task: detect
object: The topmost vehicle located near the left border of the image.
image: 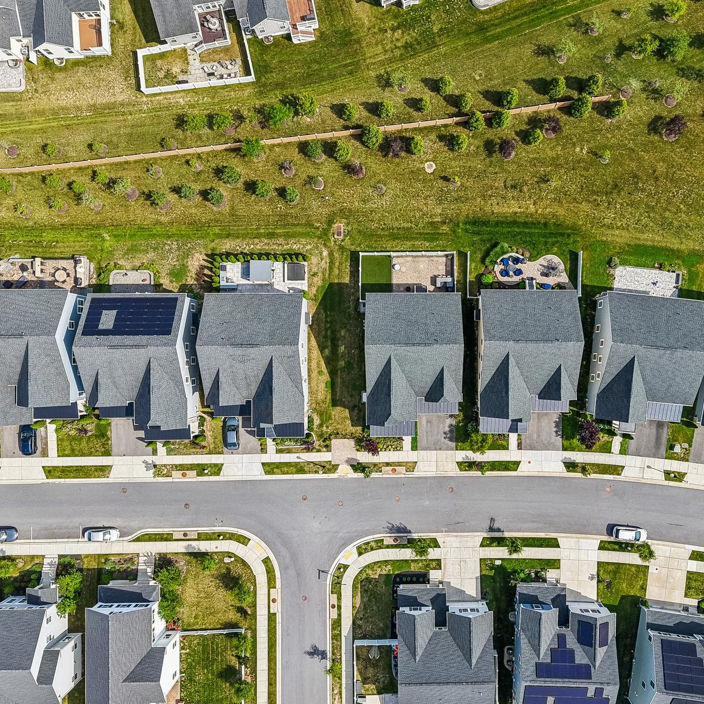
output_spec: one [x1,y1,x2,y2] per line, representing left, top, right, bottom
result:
[16,424,34,456]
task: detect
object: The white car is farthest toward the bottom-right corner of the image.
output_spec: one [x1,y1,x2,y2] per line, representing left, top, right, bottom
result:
[614,526,650,544]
